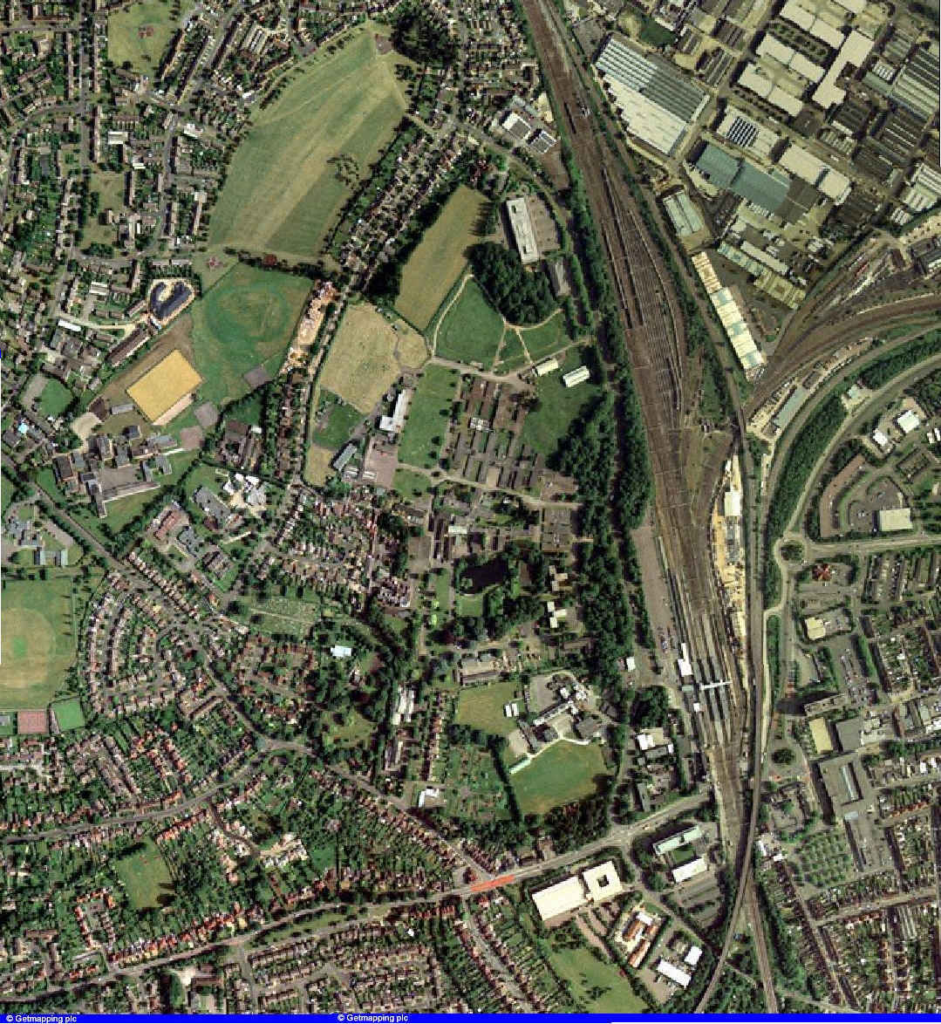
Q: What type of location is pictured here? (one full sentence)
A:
This looks like a residential area.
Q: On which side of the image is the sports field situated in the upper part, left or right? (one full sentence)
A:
It is on the left.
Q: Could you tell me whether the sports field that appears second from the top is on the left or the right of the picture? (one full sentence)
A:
You can find the sports field that appears second from the top on the left side of the picture.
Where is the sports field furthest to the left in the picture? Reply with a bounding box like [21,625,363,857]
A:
[0,580,78,707]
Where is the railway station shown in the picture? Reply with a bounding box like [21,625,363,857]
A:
[678,603,733,752]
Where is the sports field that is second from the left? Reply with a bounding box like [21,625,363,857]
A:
[194,265,311,406]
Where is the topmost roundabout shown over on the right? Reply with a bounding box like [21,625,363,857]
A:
[776,535,808,566]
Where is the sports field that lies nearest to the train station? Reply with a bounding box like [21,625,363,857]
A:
[512,740,607,816]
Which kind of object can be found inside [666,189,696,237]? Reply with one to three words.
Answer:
shed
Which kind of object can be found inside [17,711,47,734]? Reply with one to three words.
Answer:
tennis court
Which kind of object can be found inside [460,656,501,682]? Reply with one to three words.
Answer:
house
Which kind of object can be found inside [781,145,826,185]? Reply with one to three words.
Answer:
building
